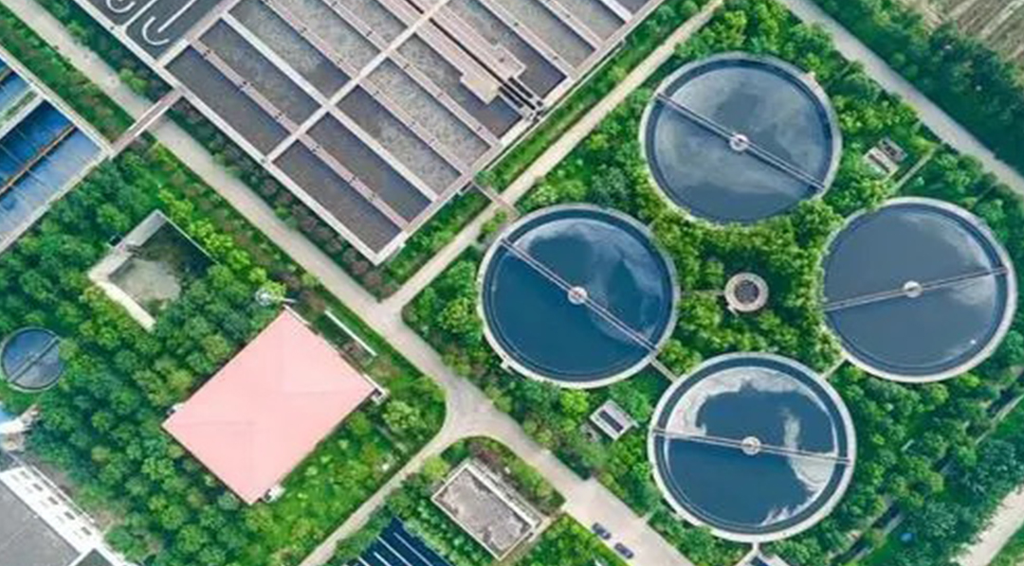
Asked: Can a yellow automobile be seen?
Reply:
No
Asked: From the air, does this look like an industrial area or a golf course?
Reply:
industrial area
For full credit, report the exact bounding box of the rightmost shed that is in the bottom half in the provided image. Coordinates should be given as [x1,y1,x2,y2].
[589,399,639,445]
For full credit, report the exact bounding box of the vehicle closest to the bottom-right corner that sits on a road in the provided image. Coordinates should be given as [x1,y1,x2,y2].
[612,540,634,561]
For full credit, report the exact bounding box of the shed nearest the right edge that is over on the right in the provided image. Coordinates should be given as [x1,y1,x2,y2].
[862,145,901,183]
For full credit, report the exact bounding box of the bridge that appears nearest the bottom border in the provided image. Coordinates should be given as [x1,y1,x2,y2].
[648,422,854,466]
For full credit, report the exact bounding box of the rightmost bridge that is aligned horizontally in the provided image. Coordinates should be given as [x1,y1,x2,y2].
[820,262,1013,310]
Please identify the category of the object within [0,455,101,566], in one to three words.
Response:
building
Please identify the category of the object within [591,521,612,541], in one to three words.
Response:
car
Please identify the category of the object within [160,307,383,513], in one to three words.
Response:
building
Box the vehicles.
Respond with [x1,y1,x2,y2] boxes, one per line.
[612,540,634,561]
[591,521,612,541]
